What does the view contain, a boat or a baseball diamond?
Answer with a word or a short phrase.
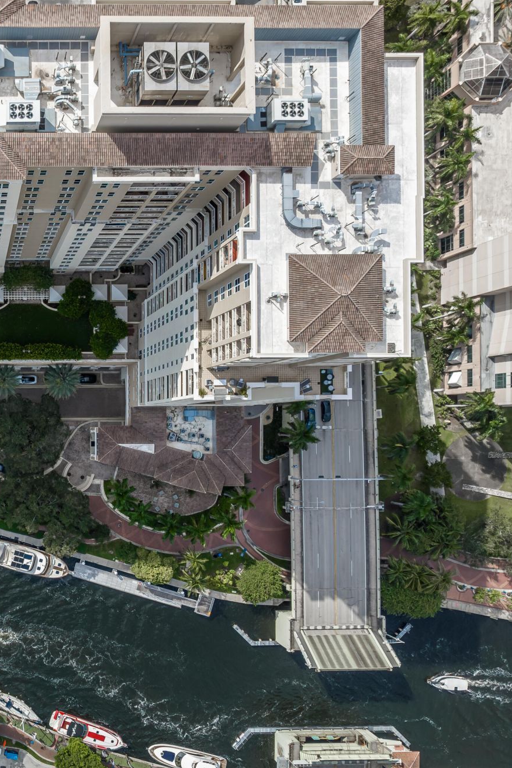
boat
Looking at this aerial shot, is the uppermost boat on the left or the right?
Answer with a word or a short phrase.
left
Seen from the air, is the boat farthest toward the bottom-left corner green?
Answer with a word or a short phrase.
No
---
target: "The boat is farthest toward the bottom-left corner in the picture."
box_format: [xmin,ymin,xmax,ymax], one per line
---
[0,692,42,735]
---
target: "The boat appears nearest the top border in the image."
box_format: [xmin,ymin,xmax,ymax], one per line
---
[0,542,71,579]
